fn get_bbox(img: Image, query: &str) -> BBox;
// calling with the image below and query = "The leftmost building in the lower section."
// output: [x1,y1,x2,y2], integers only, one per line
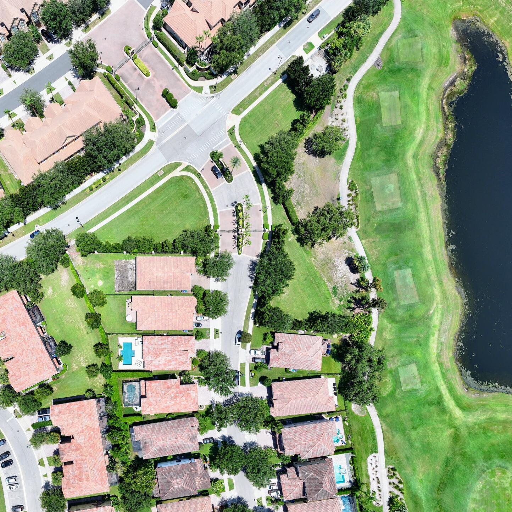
[0,290,60,392]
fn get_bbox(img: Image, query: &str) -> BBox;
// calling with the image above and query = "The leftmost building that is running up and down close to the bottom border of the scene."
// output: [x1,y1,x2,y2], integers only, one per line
[51,399,109,497]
